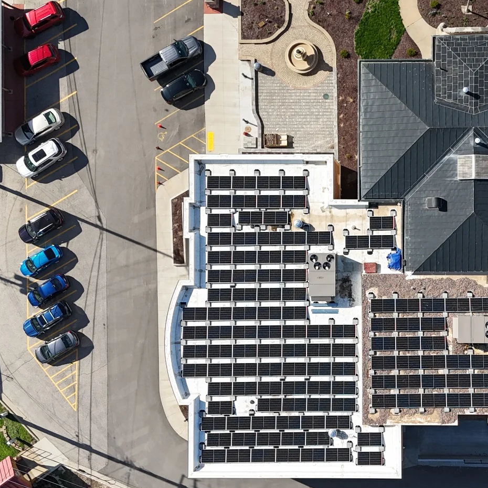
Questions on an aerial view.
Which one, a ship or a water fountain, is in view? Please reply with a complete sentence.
The one in the frame is a water fountain.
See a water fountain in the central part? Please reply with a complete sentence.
No, there is no water fountain in the central part.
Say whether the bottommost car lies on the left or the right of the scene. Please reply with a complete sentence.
The bottommost car appears in the left half of the scene.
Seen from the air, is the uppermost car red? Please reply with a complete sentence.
Yes, the uppermost car is indeed red.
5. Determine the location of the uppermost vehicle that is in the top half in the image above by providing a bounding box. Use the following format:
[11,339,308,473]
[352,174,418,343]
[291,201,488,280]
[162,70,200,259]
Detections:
[16,0,68,40]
